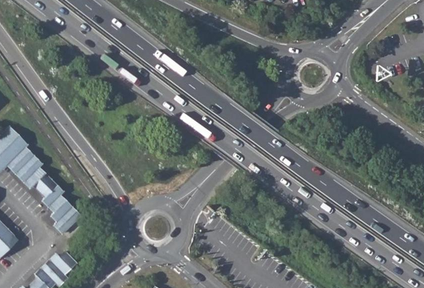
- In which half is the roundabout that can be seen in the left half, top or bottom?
bottom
